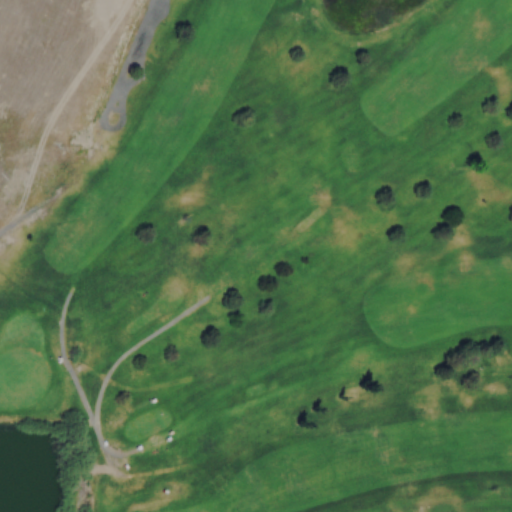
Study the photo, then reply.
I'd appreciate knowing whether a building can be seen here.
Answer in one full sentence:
No, the photo shows no building.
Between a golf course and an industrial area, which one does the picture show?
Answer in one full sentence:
The area seen from above is a golf course.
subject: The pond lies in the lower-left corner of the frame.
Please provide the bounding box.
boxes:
[0,428,62,512]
